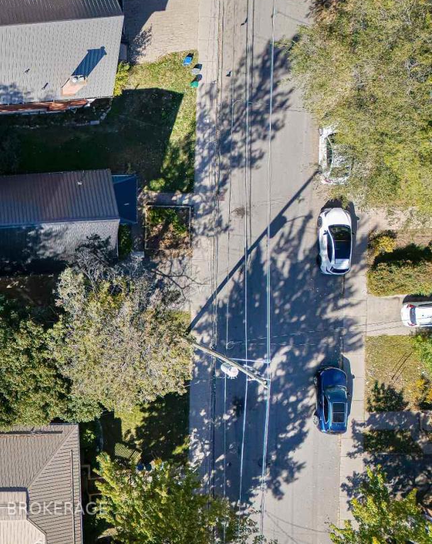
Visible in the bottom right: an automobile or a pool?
automobile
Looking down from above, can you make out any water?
No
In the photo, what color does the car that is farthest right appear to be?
white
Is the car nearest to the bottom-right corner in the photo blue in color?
Yes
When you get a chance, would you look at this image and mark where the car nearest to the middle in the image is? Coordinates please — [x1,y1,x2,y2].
[316,208,356,274]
